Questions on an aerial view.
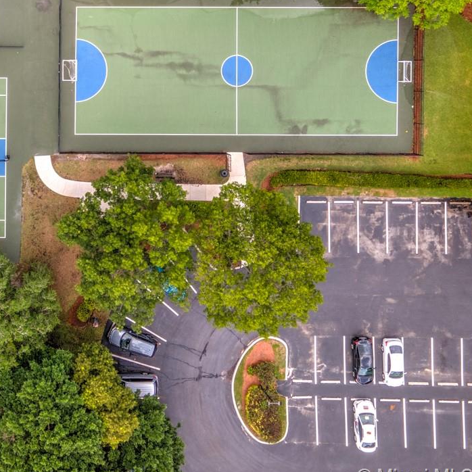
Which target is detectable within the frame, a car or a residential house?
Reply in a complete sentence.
The one in the frame is a car.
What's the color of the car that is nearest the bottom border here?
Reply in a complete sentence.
The color of the car that is nearest the bottom border is white.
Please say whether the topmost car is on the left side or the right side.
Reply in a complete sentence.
The topmost car is on the left side of the image.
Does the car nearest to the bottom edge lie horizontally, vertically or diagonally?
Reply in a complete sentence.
In this picture, the car nearest to the bottom edge lies vertically.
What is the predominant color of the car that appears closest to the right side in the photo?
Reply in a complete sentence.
From above, the car that appears closest to the right side appears white.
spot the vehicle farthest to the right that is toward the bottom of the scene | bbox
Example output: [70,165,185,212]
[382,338,408,386]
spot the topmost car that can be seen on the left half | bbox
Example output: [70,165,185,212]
[106,323,159,356]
